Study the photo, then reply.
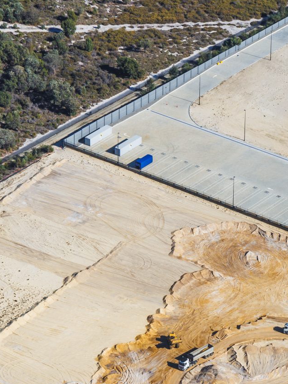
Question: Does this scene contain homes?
No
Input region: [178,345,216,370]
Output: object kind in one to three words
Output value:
truck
